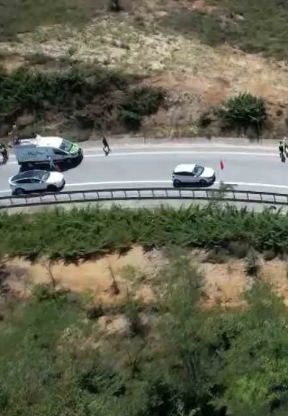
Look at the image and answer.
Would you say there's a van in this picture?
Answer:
Yes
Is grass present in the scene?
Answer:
Yes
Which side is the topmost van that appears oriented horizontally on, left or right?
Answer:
left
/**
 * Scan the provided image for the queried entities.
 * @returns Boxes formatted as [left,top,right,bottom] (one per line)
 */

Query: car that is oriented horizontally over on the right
[168,163,218,187]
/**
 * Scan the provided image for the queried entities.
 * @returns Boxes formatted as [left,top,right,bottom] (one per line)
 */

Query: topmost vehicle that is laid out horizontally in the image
[10,136,86,170]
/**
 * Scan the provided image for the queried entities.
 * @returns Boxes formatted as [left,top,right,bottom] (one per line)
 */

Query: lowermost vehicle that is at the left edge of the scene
[7,170,69,196]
